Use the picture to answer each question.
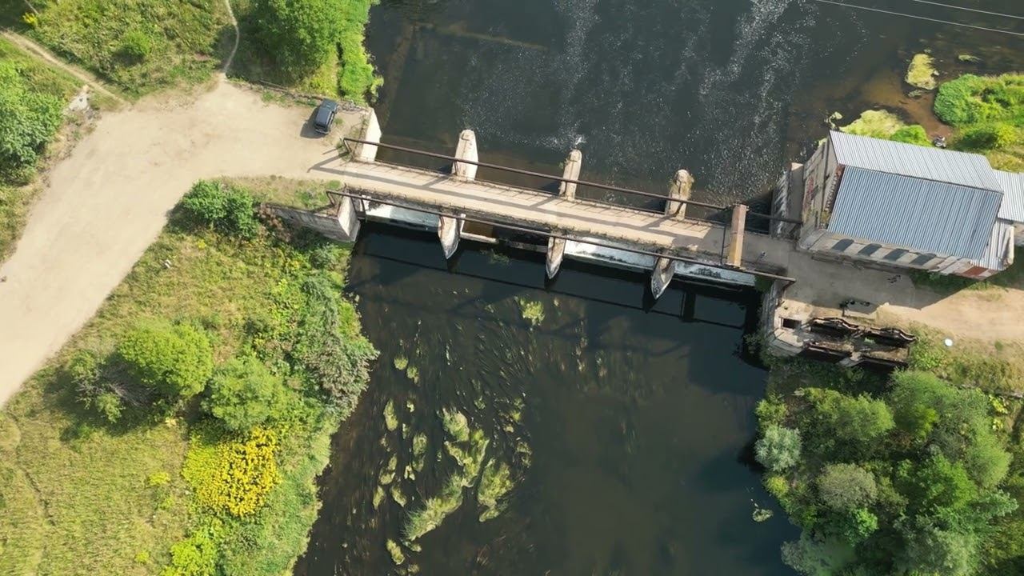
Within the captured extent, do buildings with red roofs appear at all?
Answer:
No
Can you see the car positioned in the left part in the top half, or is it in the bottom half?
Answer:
top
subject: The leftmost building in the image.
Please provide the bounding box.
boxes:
[803,130,1003,284]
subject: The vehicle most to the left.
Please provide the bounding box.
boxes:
[313,99,336,132]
